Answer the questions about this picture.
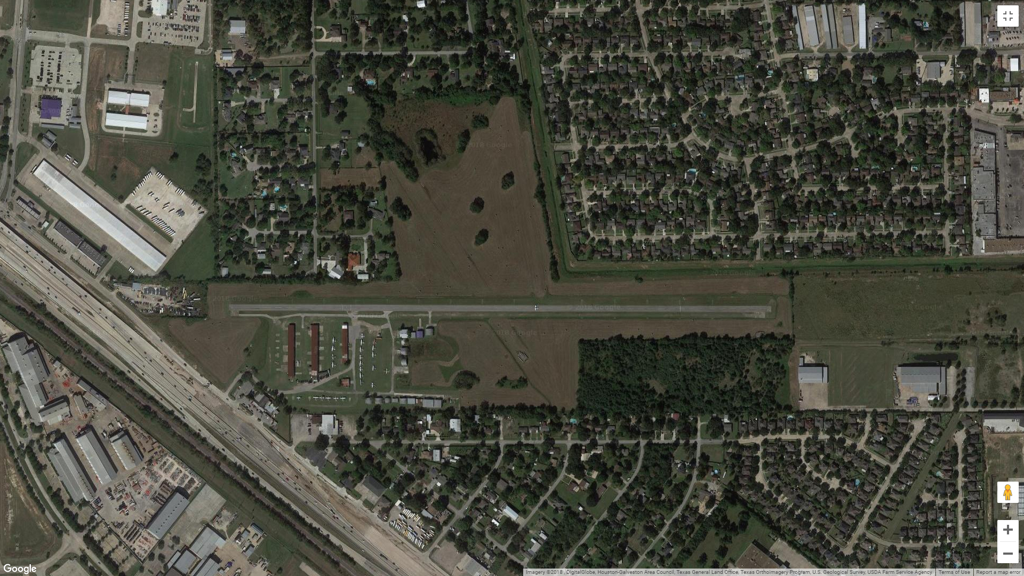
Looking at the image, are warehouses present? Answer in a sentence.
Yes, there's a warehouse here.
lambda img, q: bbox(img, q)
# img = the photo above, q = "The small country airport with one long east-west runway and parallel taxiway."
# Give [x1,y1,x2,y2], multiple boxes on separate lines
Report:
[229,304,771,402]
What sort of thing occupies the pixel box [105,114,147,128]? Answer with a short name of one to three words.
barn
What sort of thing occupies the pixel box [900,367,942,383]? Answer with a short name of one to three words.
hangar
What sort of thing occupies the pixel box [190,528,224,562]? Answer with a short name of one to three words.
building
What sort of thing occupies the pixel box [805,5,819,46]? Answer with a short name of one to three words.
shed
